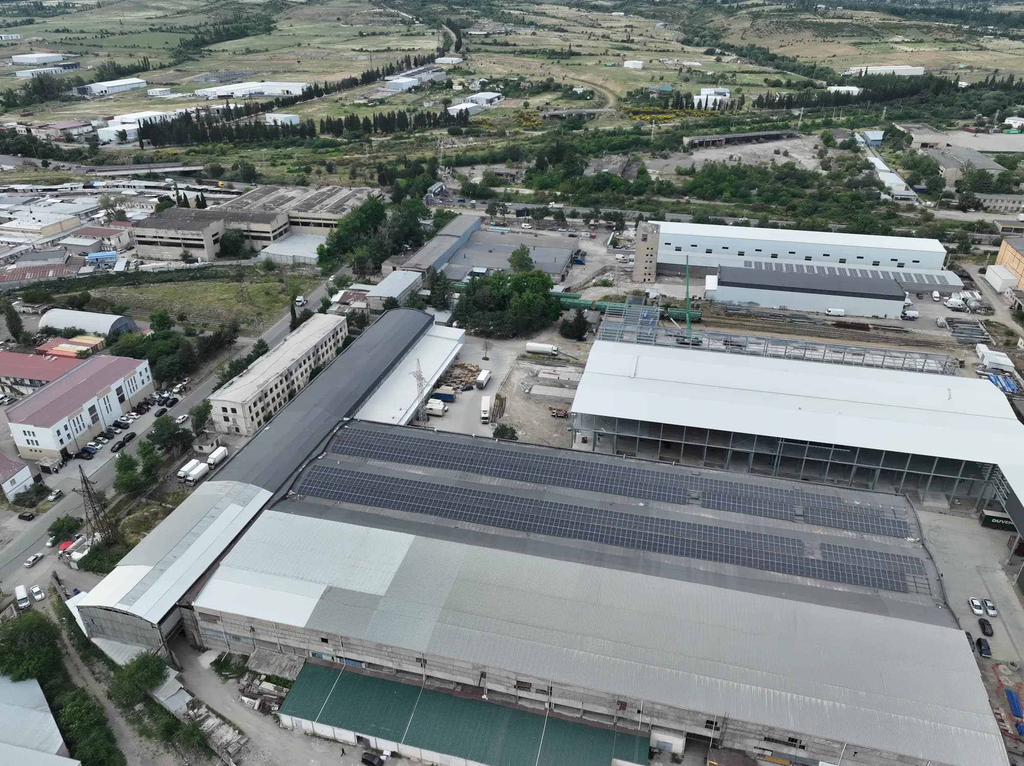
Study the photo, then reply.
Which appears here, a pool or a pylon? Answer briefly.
pylon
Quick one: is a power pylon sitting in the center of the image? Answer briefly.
Yes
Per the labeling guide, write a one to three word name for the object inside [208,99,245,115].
building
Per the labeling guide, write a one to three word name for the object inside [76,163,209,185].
bridge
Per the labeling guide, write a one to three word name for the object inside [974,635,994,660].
car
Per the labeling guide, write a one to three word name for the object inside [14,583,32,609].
vehicle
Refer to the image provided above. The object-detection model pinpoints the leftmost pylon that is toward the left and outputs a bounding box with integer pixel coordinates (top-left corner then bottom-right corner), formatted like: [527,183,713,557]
[60,460,115,545]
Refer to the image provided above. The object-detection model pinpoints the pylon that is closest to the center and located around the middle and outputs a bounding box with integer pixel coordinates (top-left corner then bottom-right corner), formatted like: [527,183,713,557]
[407,361,428,423]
